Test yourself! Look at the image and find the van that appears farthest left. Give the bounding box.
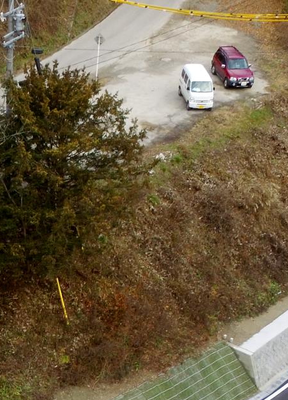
[183,55,220,101]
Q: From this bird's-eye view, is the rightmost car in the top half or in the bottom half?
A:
top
